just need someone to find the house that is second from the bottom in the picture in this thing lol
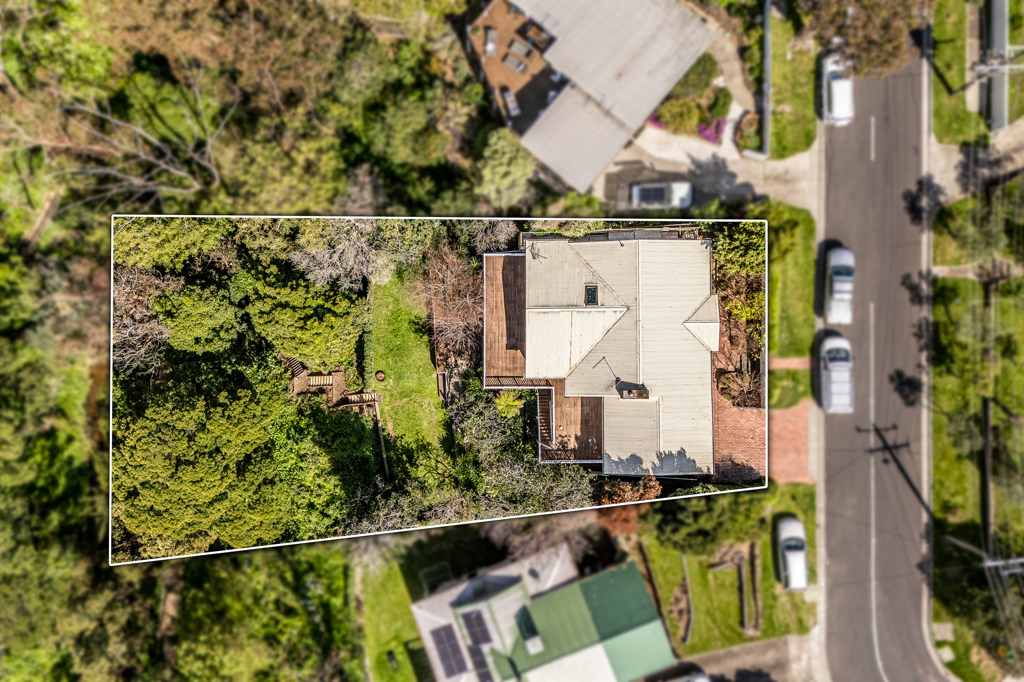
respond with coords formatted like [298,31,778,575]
[525,239,720,477]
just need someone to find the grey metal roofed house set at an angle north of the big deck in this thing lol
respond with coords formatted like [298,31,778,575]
[514,0,717,198]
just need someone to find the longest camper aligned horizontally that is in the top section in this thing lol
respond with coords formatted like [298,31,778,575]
[636,179,697,209]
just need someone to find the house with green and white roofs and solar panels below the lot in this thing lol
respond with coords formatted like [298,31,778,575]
[410,533,676,682]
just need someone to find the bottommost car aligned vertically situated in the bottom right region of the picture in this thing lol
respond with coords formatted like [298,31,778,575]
[779,518,814,593]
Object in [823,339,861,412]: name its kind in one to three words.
van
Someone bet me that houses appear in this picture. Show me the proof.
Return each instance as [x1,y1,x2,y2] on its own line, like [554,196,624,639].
[410,533,676,682]
[525,239,720,477]
[514,0,717,198]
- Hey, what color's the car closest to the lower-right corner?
white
